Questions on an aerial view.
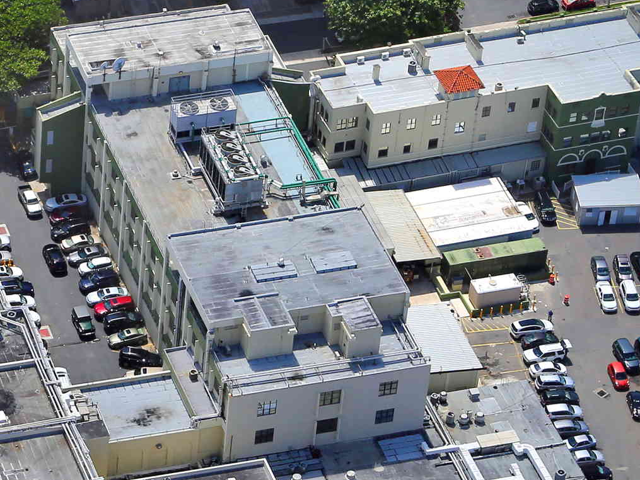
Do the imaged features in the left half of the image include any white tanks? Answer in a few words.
No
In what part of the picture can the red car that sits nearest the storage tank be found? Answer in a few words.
bottom right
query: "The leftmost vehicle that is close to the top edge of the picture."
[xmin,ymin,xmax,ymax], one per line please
[523,0,563,16]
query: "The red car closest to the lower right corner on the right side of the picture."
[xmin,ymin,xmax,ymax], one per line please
[607,363,628,391]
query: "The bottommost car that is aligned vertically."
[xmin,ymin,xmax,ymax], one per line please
[625,391,640,424]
